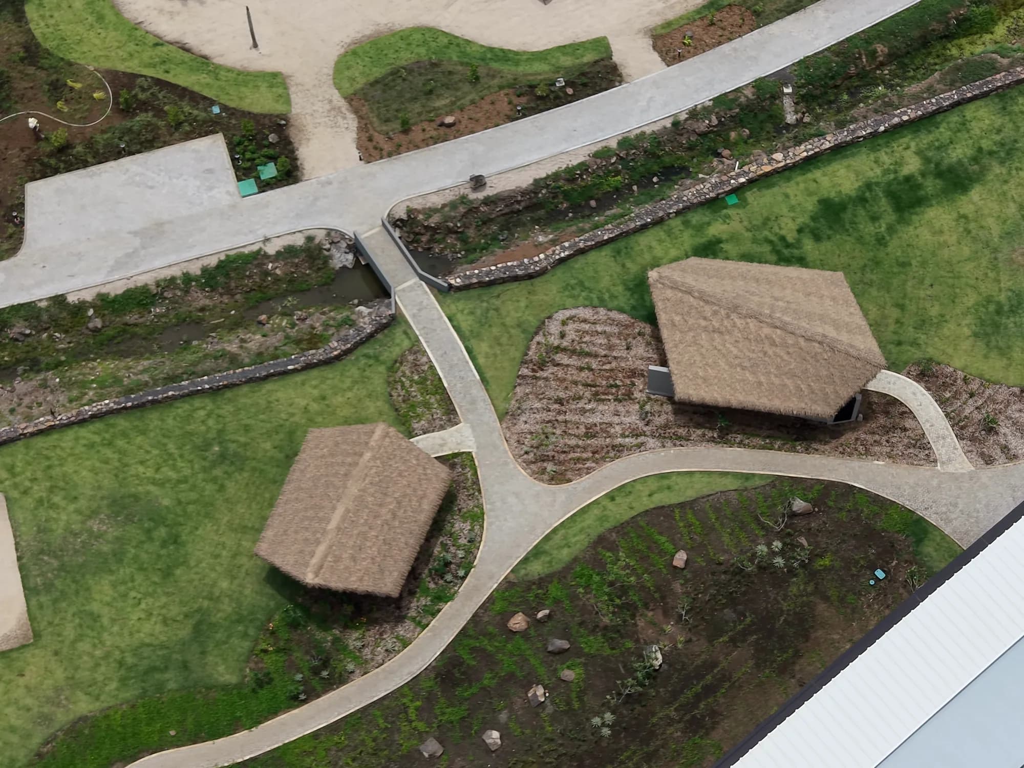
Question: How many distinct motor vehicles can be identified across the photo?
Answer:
0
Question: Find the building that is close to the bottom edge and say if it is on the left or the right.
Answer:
right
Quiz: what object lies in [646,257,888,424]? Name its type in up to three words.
shed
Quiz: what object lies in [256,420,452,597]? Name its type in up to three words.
shed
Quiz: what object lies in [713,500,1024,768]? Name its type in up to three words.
building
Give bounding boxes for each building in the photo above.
[256,420,452,597]
[646,257,888,424]
[713,500,1024,768]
